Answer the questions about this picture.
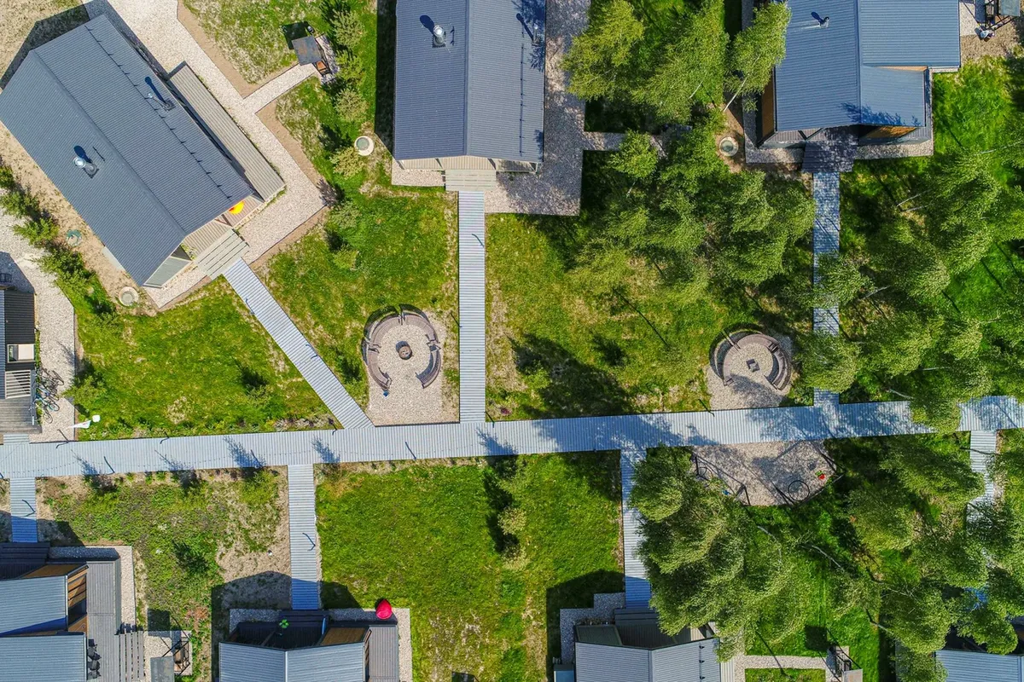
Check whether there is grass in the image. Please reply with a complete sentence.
Yes, grass can be seen from above here.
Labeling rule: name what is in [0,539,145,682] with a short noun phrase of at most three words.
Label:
house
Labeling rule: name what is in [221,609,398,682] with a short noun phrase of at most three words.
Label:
house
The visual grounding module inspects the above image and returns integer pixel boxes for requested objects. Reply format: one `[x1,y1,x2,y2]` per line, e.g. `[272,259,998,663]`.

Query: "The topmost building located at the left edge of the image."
[0,16,287,286]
